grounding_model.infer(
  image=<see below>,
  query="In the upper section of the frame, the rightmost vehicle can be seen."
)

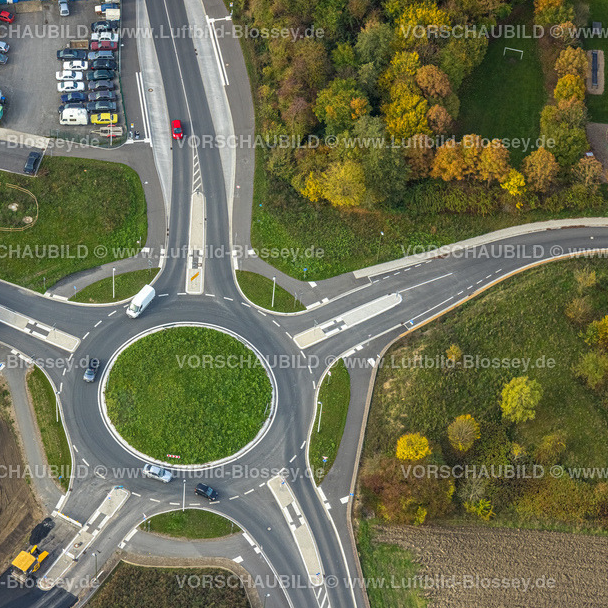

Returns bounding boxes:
[171,120,183,139]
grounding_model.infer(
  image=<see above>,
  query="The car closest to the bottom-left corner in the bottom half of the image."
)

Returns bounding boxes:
[142,463,173,483]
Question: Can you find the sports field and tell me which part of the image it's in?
top right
